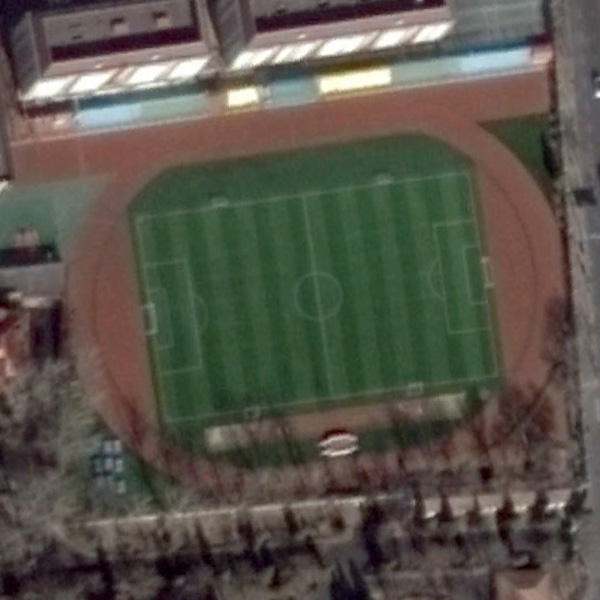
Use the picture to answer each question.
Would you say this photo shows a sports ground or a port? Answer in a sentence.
The picture captures a sports ground.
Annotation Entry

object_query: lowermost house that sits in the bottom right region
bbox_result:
[490,568,553,600]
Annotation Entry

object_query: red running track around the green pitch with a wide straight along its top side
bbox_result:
[5,65,564,491]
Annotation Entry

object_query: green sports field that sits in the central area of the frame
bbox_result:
[126,129,507,468]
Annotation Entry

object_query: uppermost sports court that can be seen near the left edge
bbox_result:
[0,175,114,269]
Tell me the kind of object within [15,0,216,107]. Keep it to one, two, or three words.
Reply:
building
